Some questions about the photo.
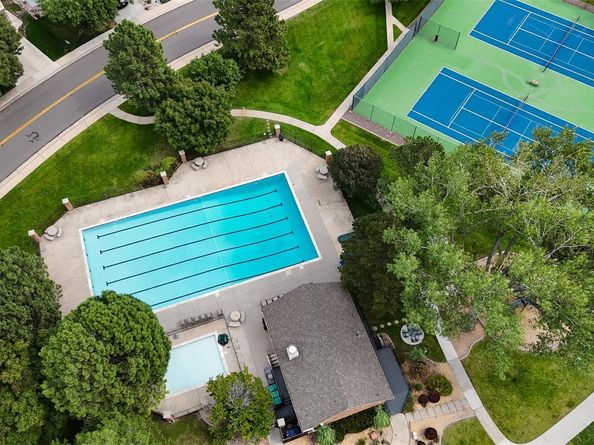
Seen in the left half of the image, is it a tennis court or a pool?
pool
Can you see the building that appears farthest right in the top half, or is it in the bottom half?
bottom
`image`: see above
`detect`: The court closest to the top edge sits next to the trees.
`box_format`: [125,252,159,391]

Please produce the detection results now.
[417,0,594,108]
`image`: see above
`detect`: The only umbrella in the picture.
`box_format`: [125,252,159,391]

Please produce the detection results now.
[213,332,228,348]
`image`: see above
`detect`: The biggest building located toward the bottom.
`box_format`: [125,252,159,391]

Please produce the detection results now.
[262,280,392,433]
